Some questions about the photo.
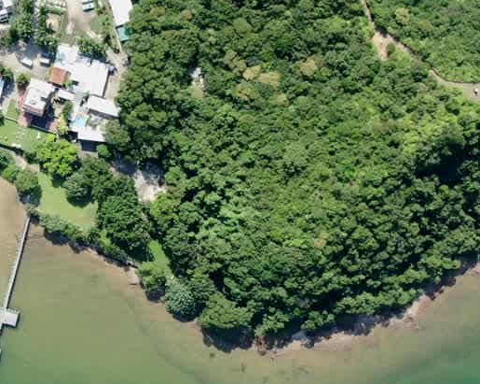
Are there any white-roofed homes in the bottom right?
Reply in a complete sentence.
No, the scene shows no white-roofed home in the bottom right.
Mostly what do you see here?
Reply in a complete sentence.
For the most part, this view shows trees.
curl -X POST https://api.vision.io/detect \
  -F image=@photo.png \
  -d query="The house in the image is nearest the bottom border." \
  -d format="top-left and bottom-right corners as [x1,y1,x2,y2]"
[77,125,108,144]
